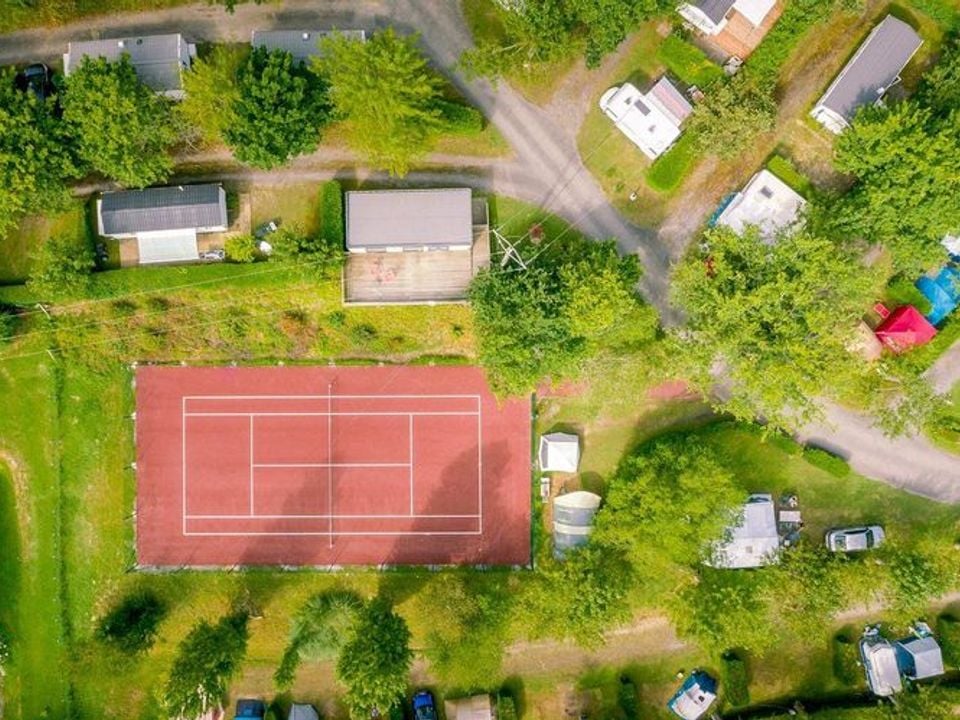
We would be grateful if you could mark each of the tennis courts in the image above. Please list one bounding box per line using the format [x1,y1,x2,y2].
[135,366,532,569]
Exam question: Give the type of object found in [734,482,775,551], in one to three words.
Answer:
van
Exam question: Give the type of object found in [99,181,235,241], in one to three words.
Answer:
house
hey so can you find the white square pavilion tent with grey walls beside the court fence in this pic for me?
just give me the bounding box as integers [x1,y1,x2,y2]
[539,432,580,473]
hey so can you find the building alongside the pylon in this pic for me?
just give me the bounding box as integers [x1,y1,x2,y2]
[345,187,473,252]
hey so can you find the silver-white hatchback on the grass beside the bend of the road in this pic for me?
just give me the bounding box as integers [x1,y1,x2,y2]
[823,523,883,551]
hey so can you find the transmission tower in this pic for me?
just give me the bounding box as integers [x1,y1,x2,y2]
[492,228,528,269]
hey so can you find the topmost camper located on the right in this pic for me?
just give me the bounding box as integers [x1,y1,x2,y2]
[595,88,678,165]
